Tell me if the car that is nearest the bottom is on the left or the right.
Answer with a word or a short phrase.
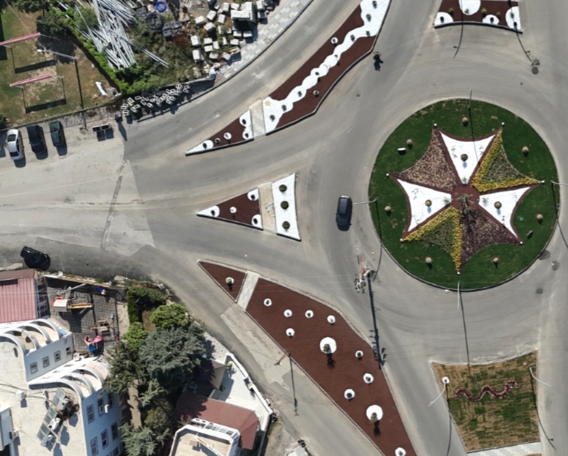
left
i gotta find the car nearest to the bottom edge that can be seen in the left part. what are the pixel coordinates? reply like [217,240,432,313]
[20,247,53,269]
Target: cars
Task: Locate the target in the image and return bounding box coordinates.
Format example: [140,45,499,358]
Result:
[20,247,53,269]
[7,128,26,161]
[28,121,49,156]
[49,120,68,147]
[335,194,352,230]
